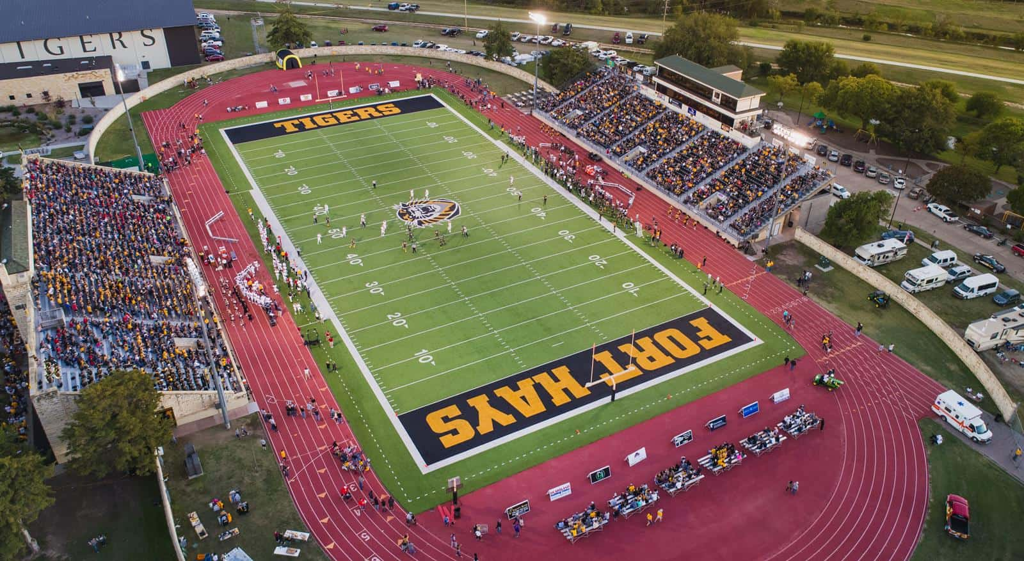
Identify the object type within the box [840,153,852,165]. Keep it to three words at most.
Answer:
vehicle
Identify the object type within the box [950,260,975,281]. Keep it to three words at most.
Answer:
car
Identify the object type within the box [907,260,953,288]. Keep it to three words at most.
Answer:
camper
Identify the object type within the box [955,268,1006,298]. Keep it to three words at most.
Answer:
vehicle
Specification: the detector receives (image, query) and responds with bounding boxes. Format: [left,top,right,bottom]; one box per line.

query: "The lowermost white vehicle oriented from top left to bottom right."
[935,385,996,439]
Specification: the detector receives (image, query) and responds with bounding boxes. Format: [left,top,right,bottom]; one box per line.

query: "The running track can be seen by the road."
[144,61,942,561]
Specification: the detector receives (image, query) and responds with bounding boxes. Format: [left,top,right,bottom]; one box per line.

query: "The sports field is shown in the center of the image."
[233,107,709,416]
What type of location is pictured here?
sports ground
